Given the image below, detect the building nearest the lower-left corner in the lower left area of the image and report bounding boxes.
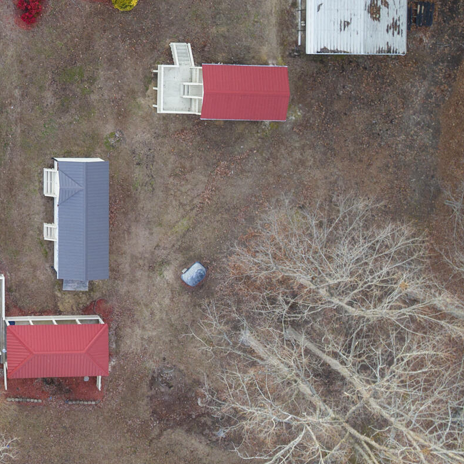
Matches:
[2,306,110,391]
